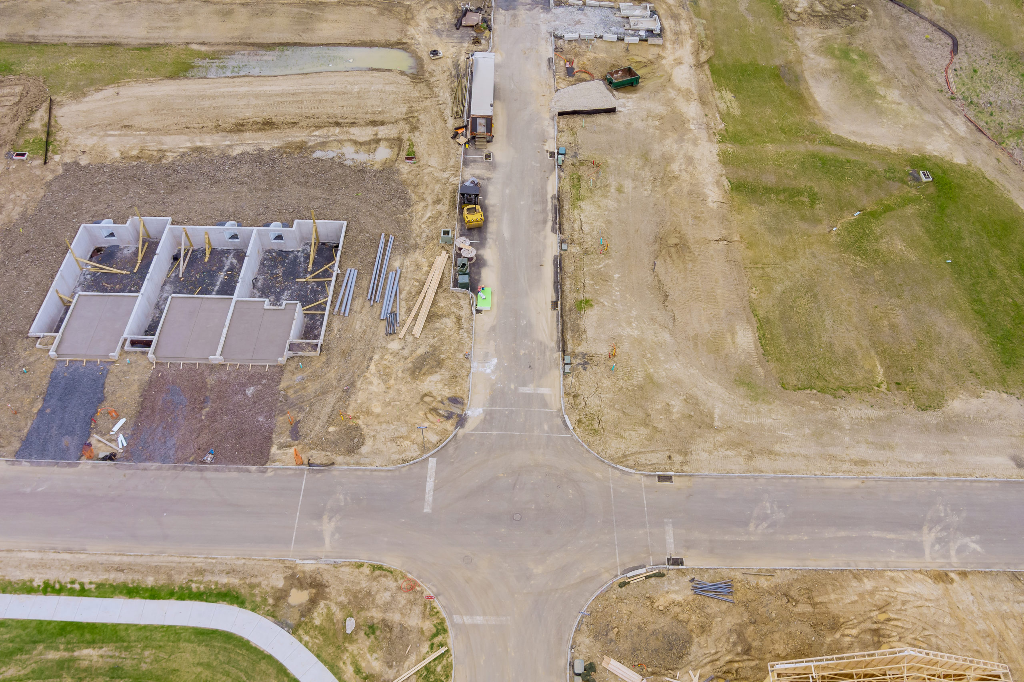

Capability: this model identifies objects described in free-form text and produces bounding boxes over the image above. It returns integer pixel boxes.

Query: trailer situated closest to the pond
[470,52,495,137]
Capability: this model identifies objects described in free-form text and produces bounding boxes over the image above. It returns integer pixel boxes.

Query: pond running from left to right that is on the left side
[188,46,413,78]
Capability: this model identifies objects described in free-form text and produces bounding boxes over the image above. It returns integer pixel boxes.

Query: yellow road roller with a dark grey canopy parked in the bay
[462,176,484,222]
